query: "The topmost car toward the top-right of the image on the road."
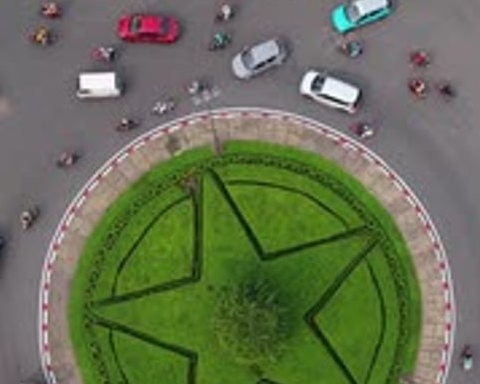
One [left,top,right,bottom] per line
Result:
[331,0,395,35]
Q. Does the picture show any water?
No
